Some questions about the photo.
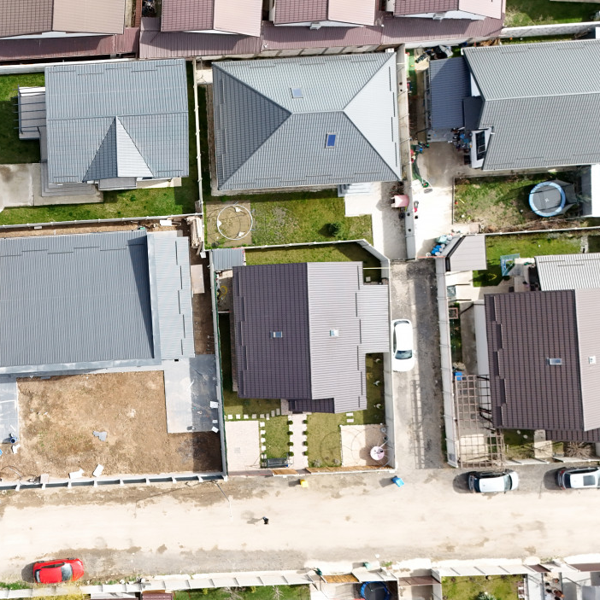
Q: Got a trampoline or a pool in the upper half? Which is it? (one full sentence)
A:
The one visible in the upper half is a trampoline.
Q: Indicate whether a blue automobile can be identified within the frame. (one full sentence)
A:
No, I find no blue automobile anywhere in the image.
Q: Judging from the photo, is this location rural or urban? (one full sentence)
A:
The area shown here is urban.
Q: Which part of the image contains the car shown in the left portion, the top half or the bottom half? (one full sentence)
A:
Seen from above, the car shown in the left portion lies in the bottom half of the view.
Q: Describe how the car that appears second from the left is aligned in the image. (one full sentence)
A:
From this overhead view, the car that appears second from the left appears to run vertically.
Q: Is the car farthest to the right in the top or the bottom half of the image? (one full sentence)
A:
It is in the bottom half that the car farthest to the right appears.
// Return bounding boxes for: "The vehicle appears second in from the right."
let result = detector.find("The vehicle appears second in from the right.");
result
[466,469,517,496]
